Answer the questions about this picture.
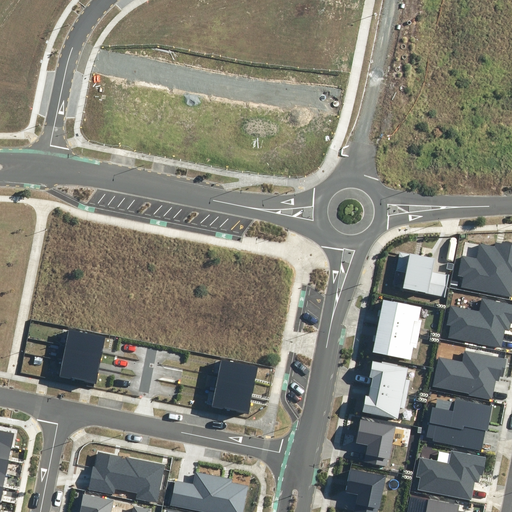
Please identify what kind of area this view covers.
residential area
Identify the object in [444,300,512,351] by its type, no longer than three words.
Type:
house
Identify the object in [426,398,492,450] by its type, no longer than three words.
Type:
house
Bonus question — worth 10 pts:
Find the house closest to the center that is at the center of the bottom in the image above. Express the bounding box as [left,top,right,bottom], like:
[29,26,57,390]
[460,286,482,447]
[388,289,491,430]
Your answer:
[214,360,258,414]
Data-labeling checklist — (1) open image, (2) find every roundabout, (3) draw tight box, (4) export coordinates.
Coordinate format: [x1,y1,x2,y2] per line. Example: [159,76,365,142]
[328,188,374,235]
